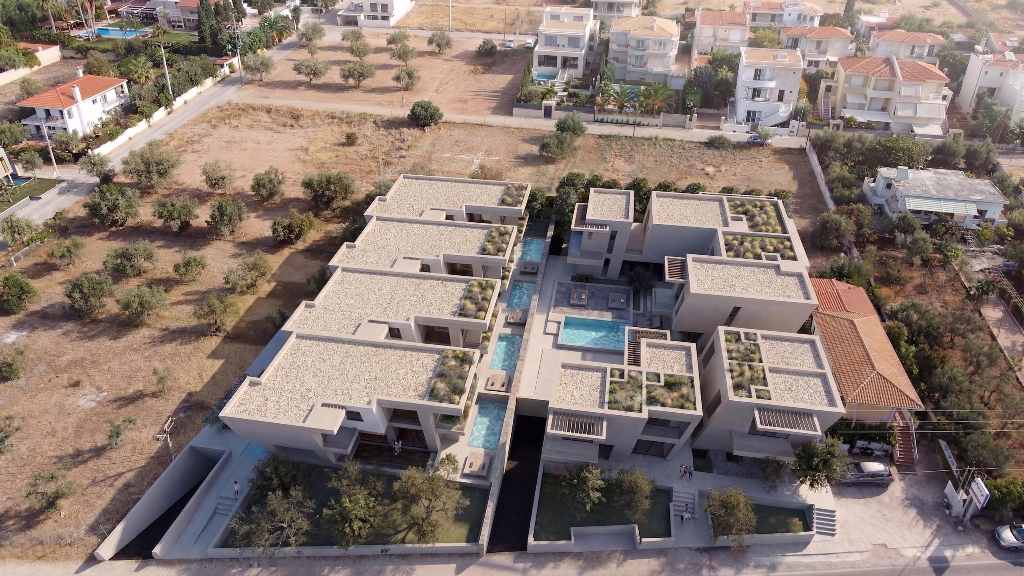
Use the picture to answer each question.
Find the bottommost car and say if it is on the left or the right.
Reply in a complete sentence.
The bottommost car is on the right side of the image.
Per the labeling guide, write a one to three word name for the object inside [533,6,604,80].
house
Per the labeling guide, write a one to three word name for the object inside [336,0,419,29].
house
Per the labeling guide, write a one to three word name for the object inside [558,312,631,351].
swimming pool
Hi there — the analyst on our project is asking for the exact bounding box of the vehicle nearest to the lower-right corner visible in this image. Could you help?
[999,522,1024,552]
